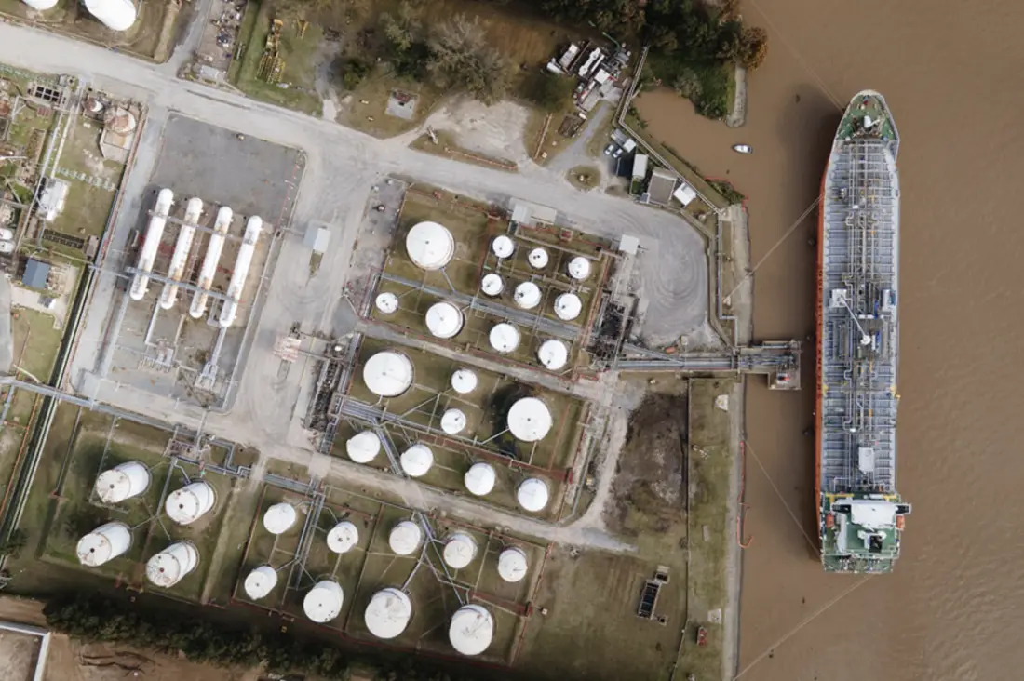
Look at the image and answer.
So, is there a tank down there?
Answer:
Yes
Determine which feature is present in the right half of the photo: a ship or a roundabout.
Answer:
ship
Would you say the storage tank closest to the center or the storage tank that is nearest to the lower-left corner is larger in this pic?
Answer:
the storage tank that is nearest to the lower-left corner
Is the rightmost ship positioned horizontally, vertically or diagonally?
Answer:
vertically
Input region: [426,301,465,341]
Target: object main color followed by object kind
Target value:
white storage tank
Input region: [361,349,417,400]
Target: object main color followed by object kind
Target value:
white storage tank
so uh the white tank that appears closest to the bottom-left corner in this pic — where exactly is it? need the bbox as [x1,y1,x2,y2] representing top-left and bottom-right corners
[77,523,136,569]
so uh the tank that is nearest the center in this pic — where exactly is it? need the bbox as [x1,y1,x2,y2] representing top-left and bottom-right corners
[489,321,522,356]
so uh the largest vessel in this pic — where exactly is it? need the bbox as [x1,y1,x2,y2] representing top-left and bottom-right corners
[814,90,910,572]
